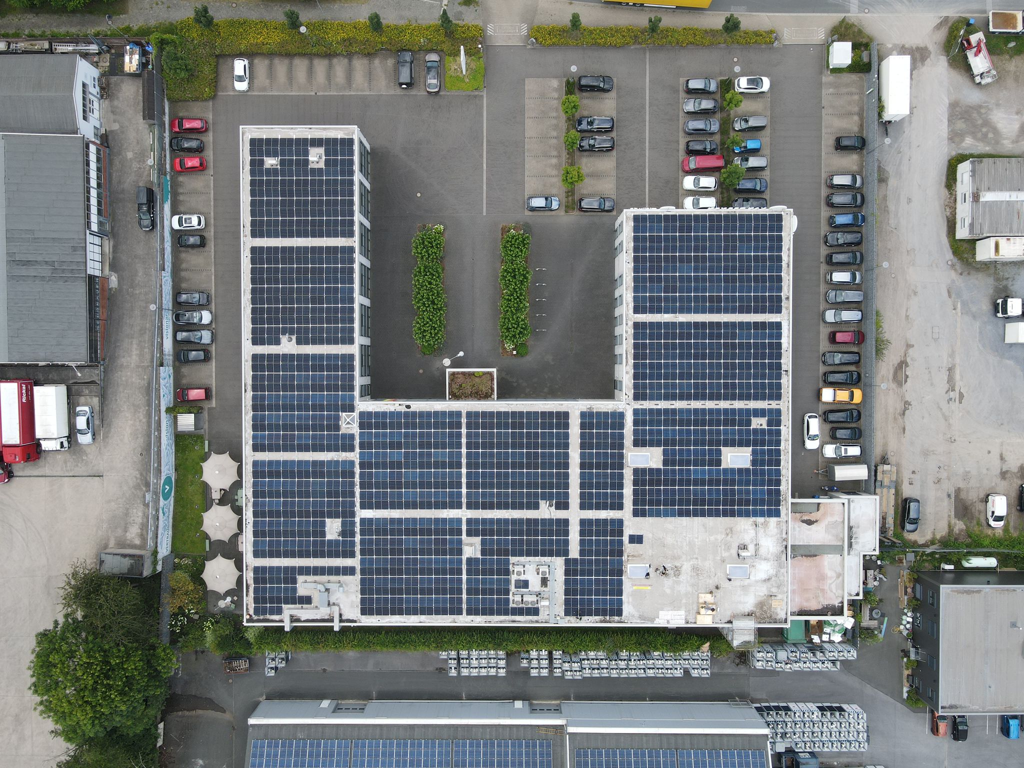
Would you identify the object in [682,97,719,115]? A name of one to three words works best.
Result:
car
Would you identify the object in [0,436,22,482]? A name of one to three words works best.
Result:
truck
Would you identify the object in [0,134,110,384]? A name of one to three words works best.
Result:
building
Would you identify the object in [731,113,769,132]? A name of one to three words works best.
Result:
vehicle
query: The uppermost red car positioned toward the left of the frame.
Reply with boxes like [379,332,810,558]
[170,115,209,135]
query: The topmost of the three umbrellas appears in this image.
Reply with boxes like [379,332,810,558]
[203,452,241,490]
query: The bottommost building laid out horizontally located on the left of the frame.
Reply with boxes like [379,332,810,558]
[245,694,566,768]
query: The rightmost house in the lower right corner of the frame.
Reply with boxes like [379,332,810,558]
[911,571,1024,714]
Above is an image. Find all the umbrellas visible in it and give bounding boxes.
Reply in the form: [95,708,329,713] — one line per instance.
[204,502,242,541]
[203,452,241,490]
[203,554,244,594]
